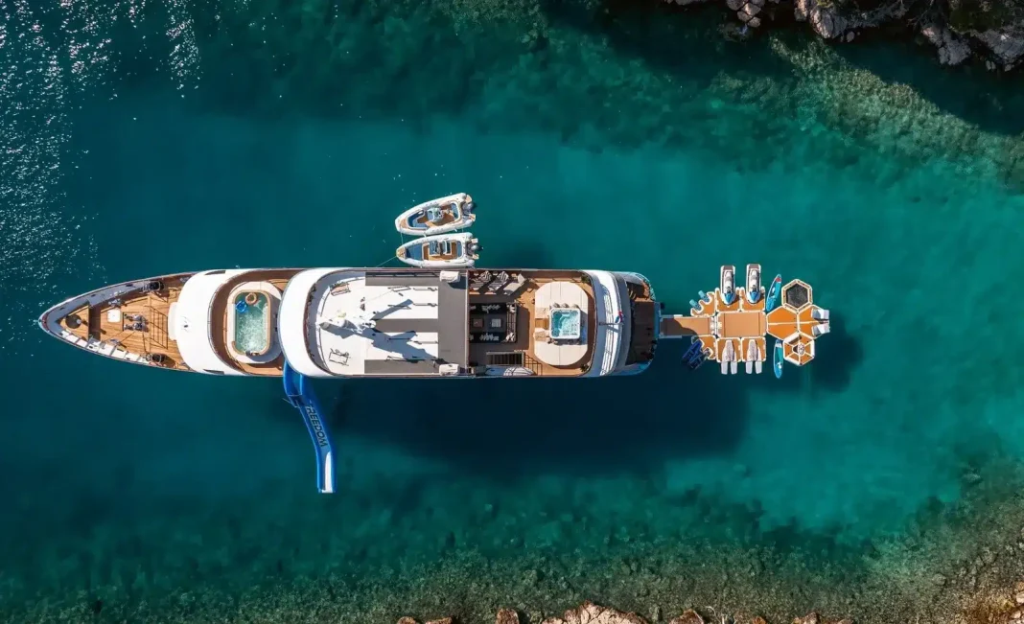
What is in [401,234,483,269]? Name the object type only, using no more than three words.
boat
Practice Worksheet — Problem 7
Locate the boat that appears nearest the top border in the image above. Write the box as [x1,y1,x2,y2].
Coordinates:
[398,193,479,234]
